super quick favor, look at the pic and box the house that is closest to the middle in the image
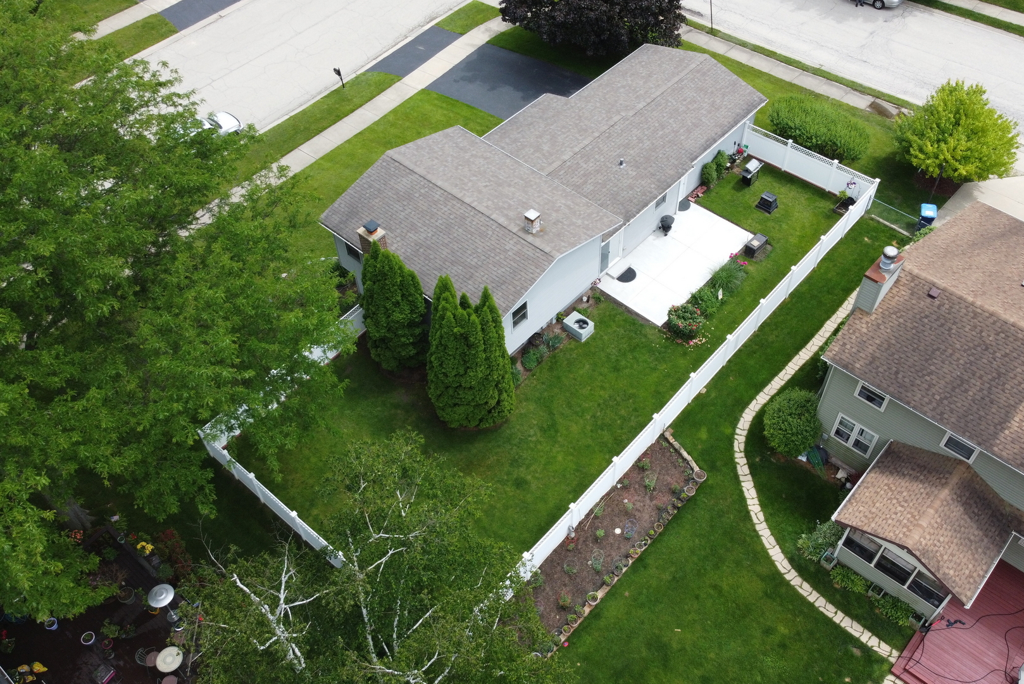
[316,45,769,361]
